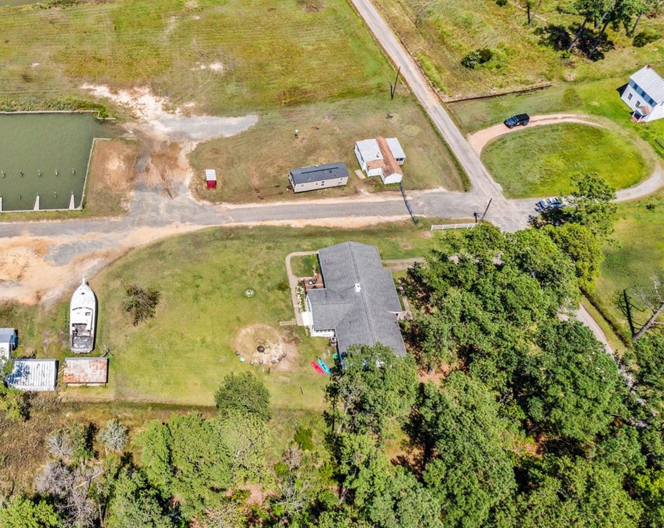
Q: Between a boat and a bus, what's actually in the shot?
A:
boat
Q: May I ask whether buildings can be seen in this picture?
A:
Yes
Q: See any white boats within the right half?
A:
No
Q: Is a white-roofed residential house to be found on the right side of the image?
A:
Yes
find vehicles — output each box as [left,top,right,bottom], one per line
[504,113,530,127]
[538,193,567,209]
